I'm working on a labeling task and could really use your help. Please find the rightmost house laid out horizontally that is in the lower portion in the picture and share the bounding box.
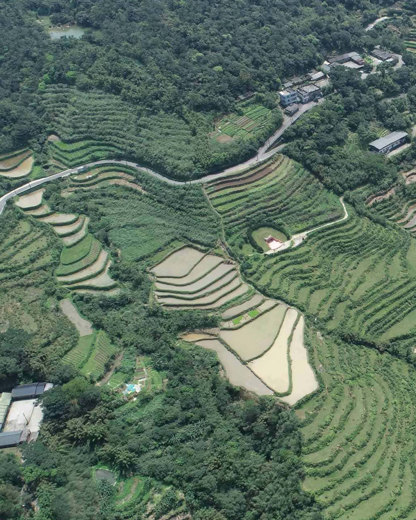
[12,384,47,401]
